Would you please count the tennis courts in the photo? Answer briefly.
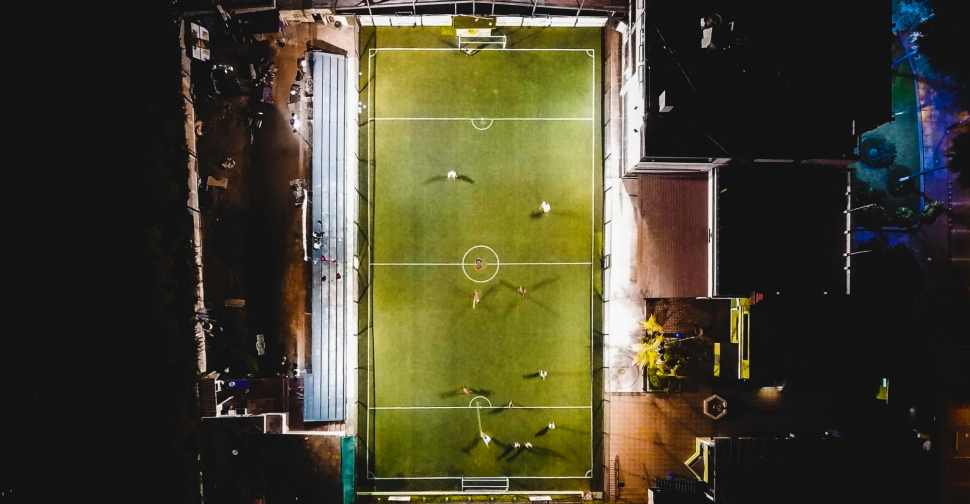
zero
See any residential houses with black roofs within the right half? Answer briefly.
Yes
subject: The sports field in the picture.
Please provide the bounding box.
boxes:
[359,27,603,492]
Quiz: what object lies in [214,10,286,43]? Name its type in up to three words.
shed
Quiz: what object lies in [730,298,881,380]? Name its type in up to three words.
house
